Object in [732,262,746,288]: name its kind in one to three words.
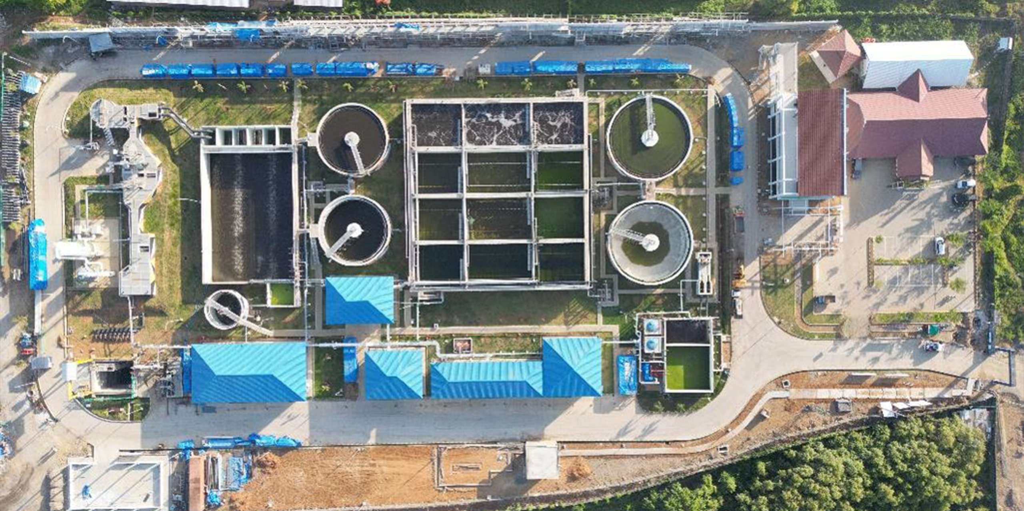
vehicle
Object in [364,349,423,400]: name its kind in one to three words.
building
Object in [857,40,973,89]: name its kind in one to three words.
shed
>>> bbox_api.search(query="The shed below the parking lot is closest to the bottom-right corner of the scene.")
[961,407,993,440]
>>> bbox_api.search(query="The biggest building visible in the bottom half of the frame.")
[191,342,309,403]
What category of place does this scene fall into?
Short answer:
industrial area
